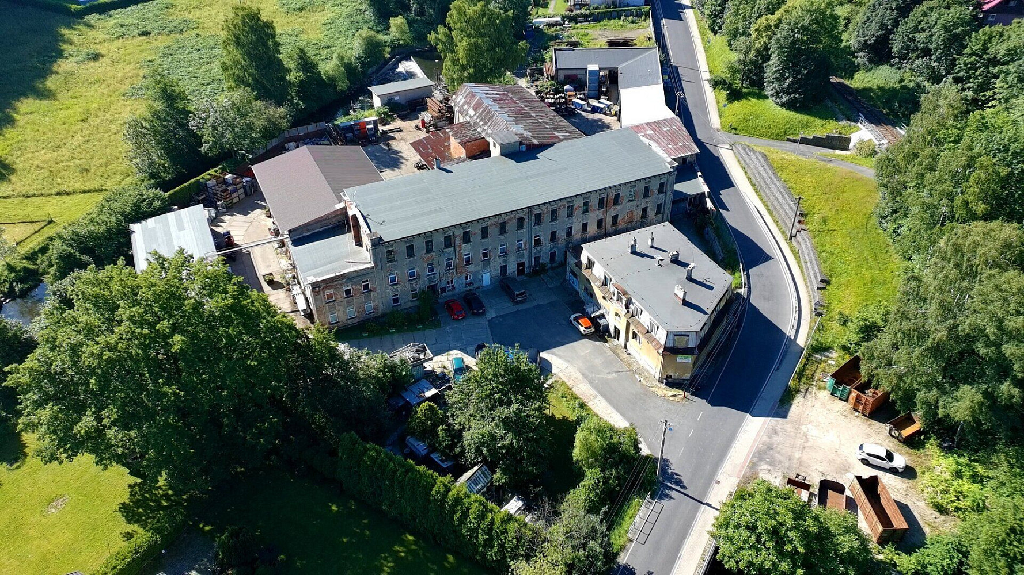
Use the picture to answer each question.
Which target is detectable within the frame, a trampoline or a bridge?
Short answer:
bridge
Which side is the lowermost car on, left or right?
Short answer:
right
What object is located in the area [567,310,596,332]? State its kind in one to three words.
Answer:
car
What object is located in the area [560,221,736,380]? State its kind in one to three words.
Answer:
house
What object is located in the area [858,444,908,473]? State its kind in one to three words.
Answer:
car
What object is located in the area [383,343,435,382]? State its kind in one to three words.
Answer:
shed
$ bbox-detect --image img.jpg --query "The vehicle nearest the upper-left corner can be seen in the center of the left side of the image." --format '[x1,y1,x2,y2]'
[221,228,235,247]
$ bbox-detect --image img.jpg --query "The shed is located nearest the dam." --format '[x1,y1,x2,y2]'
[368,77,435,110]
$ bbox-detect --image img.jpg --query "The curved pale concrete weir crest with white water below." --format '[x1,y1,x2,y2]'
[392,56,434,82]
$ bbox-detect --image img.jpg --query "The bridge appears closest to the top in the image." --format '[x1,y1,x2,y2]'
[826,106,908,142]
